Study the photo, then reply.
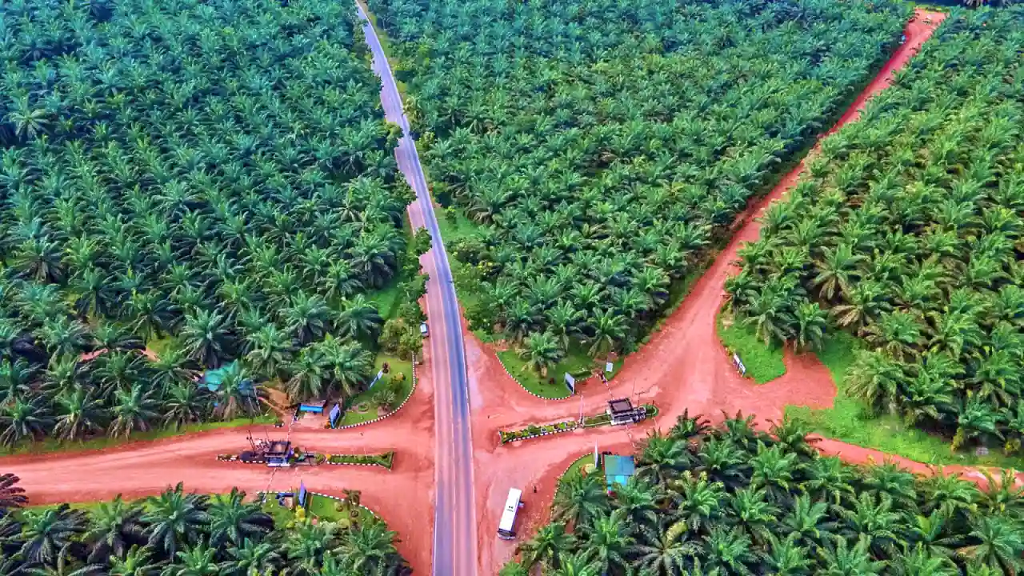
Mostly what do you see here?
trees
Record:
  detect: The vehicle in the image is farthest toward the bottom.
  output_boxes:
[496,489,522,542]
